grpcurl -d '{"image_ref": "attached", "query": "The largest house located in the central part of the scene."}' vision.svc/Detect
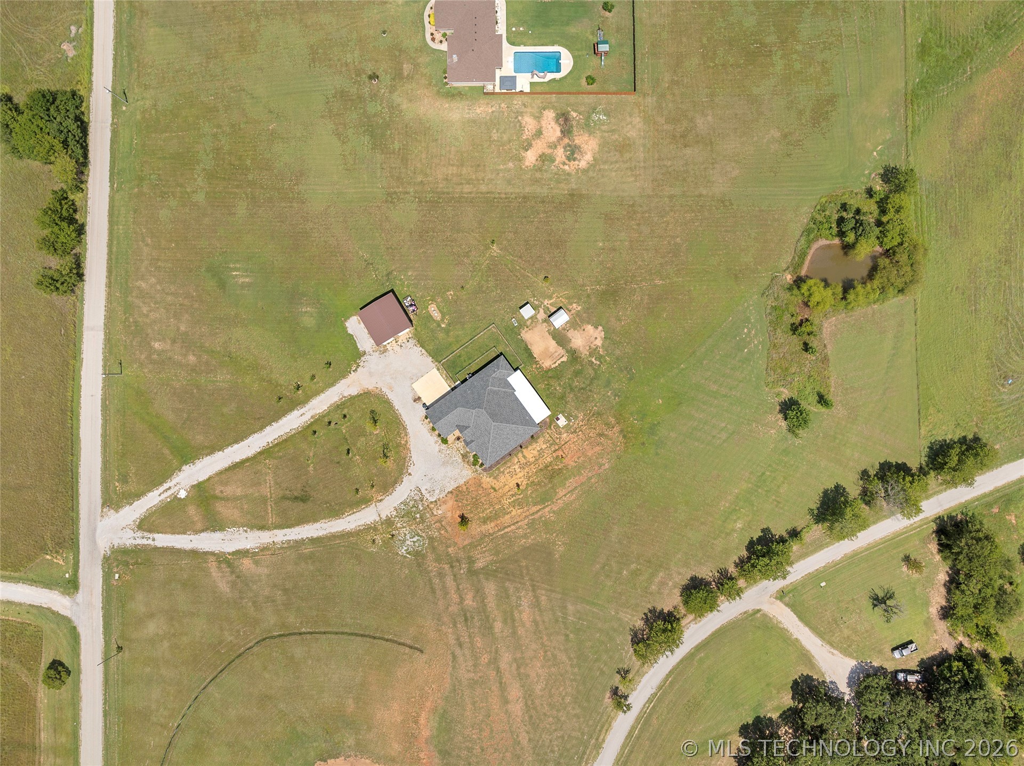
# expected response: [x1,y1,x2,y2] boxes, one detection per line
[426,355,551,467]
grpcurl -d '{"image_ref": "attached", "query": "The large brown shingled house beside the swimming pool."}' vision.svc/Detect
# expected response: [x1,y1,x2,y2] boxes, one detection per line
[435,0,503,86]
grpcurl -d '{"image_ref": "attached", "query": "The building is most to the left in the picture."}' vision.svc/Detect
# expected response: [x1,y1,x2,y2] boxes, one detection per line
[358,292,413,346]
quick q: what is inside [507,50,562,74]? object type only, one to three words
swimming pool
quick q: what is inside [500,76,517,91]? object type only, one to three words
gazebo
